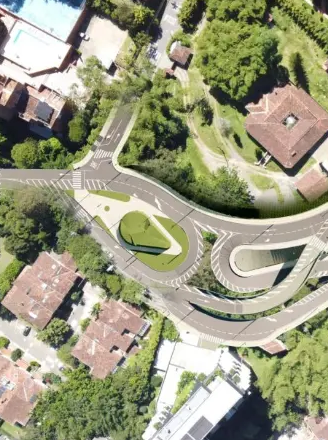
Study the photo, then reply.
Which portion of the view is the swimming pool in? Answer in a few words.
top left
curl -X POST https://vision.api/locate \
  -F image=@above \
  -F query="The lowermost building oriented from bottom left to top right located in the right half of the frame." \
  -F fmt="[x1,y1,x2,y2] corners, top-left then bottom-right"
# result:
[150,365,246,440]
